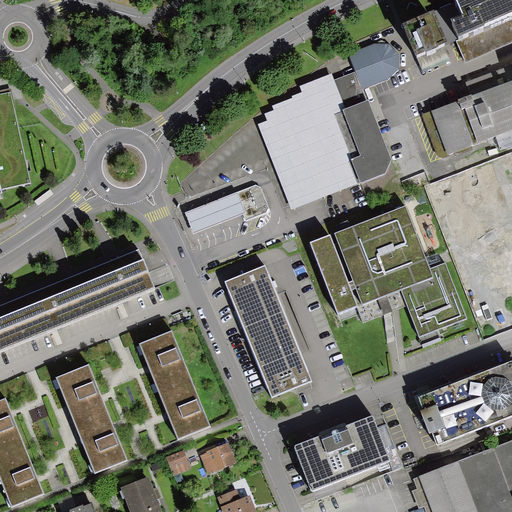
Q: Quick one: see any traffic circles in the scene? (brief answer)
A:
Yes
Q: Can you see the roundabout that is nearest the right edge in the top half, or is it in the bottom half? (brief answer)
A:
top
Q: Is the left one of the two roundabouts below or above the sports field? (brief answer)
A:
above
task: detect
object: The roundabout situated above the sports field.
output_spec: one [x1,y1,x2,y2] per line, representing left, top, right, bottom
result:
[0,8,48,66]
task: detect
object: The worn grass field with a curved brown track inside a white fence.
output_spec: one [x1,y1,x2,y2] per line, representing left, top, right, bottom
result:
[0,92,30,190]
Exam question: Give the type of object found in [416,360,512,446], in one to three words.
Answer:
building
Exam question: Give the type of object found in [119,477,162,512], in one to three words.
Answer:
house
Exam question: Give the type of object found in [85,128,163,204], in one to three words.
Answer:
roundabout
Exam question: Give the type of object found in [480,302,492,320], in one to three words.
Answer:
vehicle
